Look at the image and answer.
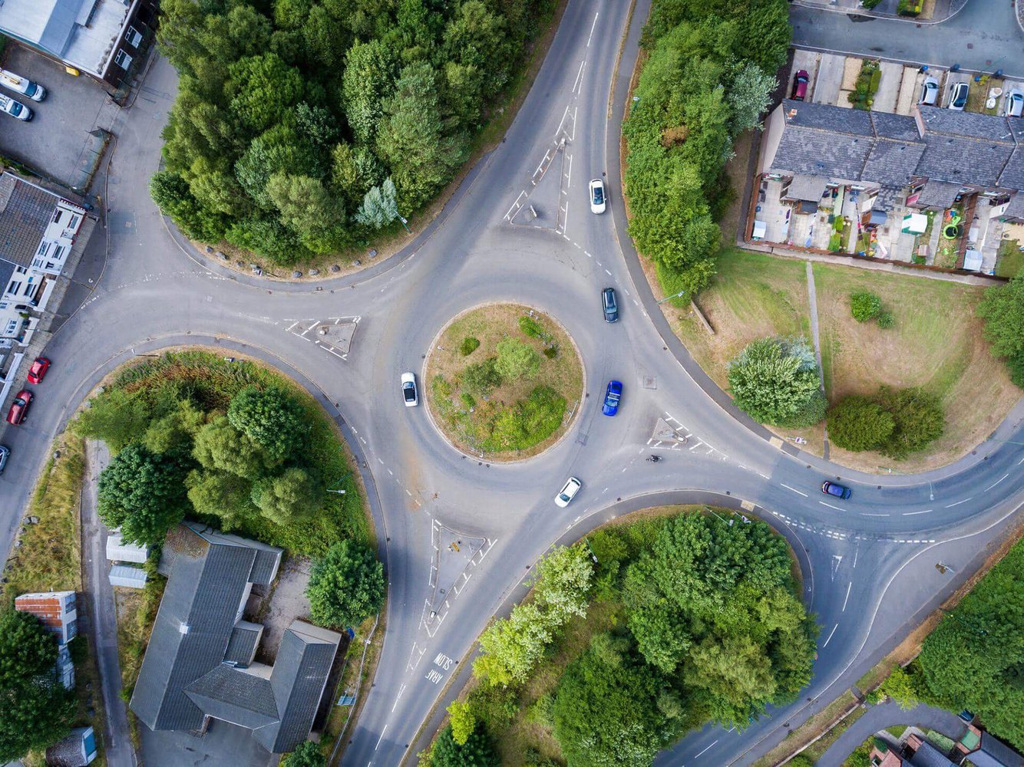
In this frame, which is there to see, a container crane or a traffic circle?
traffic circle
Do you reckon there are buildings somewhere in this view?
Yes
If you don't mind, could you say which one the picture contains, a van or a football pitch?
van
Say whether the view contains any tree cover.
Yes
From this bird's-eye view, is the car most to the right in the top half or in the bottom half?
top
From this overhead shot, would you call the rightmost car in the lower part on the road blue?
Yes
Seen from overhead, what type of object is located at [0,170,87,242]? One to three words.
house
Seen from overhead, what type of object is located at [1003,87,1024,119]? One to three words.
car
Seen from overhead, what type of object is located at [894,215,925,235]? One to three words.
gazebo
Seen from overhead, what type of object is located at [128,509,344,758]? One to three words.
building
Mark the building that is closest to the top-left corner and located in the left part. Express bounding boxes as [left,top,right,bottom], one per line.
[0,0,162,93]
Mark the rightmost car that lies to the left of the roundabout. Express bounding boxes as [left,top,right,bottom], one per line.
[400,372,418,407]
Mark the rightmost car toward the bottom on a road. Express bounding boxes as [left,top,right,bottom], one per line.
[818,479,850,500]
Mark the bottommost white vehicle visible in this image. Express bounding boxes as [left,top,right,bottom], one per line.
[554,475,582,509]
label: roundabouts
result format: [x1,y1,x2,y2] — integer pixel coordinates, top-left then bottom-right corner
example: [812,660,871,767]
[422,301,587,466]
